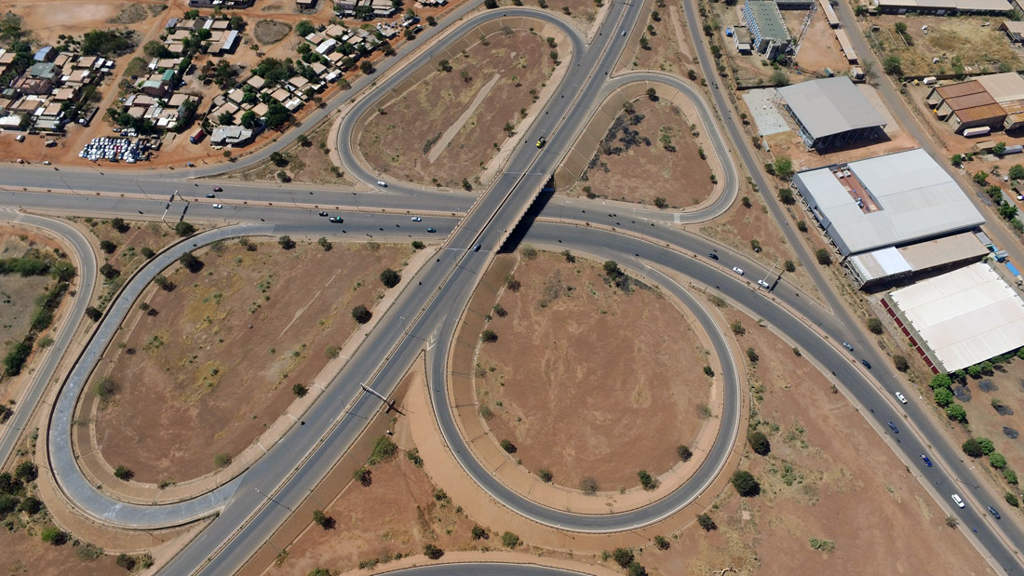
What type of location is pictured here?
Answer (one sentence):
The area seen from above is a residential area.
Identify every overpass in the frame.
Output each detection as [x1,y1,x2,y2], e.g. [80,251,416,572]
[429,170,579,264]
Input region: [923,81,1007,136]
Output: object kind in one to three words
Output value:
building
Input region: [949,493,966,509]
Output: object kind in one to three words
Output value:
vehicle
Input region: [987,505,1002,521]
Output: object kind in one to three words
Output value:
car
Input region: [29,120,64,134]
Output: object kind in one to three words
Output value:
house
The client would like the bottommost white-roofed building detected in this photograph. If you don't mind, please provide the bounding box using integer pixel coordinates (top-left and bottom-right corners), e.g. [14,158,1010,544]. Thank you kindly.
[876,261,1024,381]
